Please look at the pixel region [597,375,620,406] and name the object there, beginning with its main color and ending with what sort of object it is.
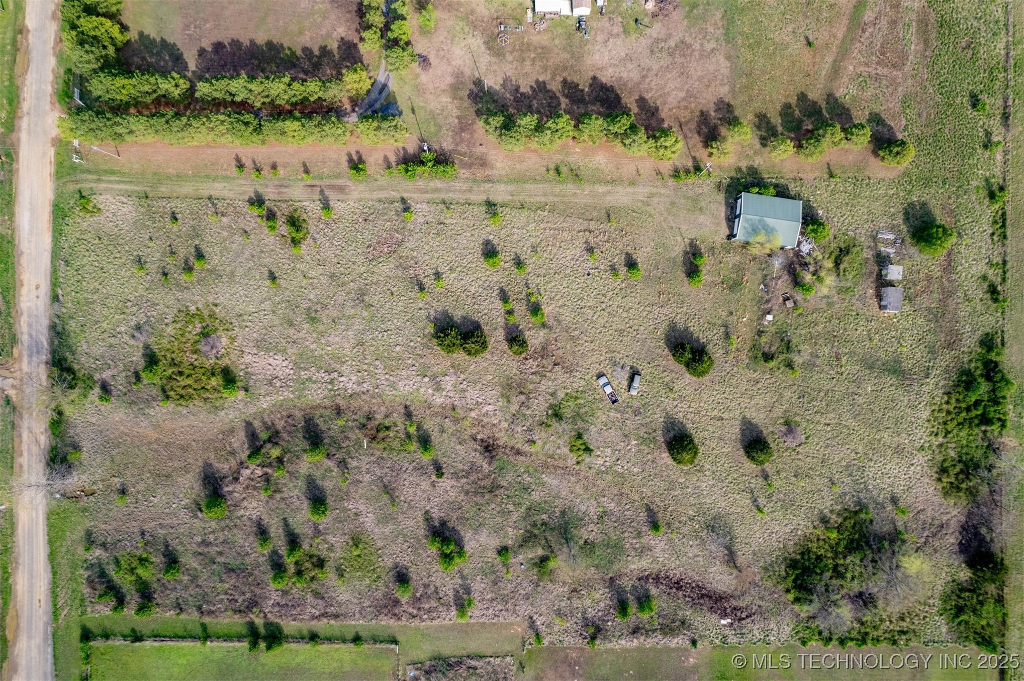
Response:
white truck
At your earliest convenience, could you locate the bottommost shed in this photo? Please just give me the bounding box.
[875,289,901,314]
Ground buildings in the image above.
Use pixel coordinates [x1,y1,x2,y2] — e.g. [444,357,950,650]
[573,0,590,21]
[731,192,803,248]
[876,265,902,280]
[875,289,901,314]
[535,0,572,15]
